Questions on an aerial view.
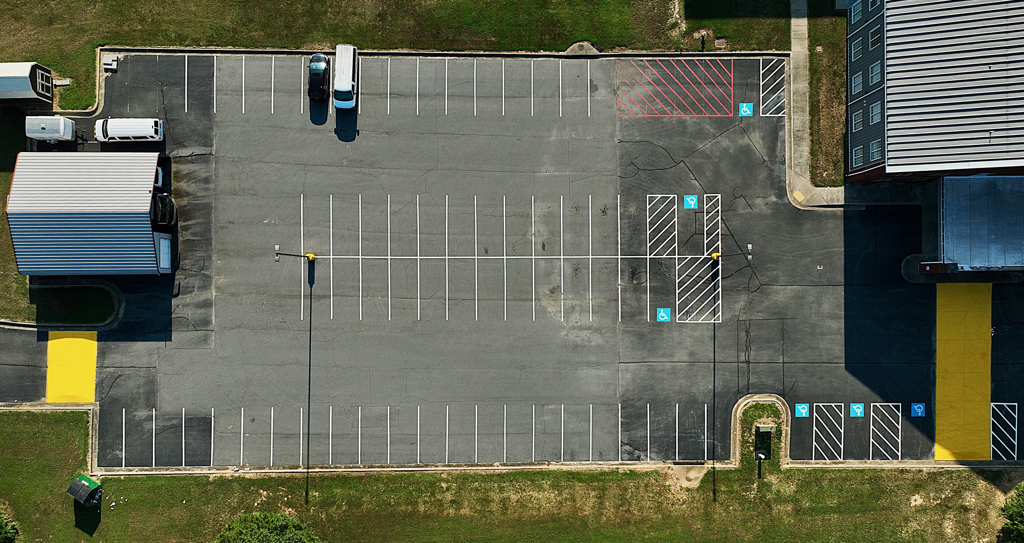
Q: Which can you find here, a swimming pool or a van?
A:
van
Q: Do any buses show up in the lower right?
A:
No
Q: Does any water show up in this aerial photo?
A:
No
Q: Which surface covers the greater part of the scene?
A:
paved ground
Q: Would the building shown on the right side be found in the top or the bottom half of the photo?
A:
top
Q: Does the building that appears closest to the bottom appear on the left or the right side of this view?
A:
left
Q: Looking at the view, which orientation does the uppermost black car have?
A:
vertically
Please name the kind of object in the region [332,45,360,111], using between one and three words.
van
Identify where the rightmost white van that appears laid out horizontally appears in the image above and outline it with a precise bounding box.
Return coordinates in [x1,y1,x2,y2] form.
[94,116,165,144]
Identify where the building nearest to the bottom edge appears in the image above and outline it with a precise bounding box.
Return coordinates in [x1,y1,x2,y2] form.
[6,152,172,274]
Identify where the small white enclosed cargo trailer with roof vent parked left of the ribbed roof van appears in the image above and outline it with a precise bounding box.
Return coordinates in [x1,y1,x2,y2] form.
[26,116,89,144]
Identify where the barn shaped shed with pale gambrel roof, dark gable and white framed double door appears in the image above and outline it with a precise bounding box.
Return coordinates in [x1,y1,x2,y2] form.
[0,63,52,102]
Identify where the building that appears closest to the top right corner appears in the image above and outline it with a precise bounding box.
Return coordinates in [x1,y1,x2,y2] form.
[846,0,1024,182]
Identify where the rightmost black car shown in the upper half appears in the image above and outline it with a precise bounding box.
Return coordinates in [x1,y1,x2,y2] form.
[305,53,329,101]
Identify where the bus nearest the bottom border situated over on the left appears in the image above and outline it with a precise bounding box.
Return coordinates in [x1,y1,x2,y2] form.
[151,194,176,228]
